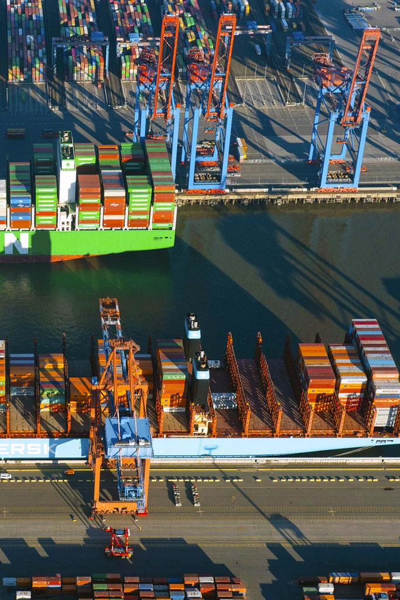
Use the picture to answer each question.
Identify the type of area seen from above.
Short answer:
port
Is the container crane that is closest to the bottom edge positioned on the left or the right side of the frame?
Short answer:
left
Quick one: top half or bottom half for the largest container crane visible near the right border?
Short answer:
top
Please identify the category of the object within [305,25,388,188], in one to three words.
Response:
container crane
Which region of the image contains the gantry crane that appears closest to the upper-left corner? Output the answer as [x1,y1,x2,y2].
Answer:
[52,32,116,78]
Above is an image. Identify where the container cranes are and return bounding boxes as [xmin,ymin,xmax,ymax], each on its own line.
[222,20,277,59]
[305,25,388,188]
[133,13,183,188]
[282,27,345,74]
[52,32,116,78]
[179,13,239,189]
[82,297,158,519]
[114,36,168,77]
